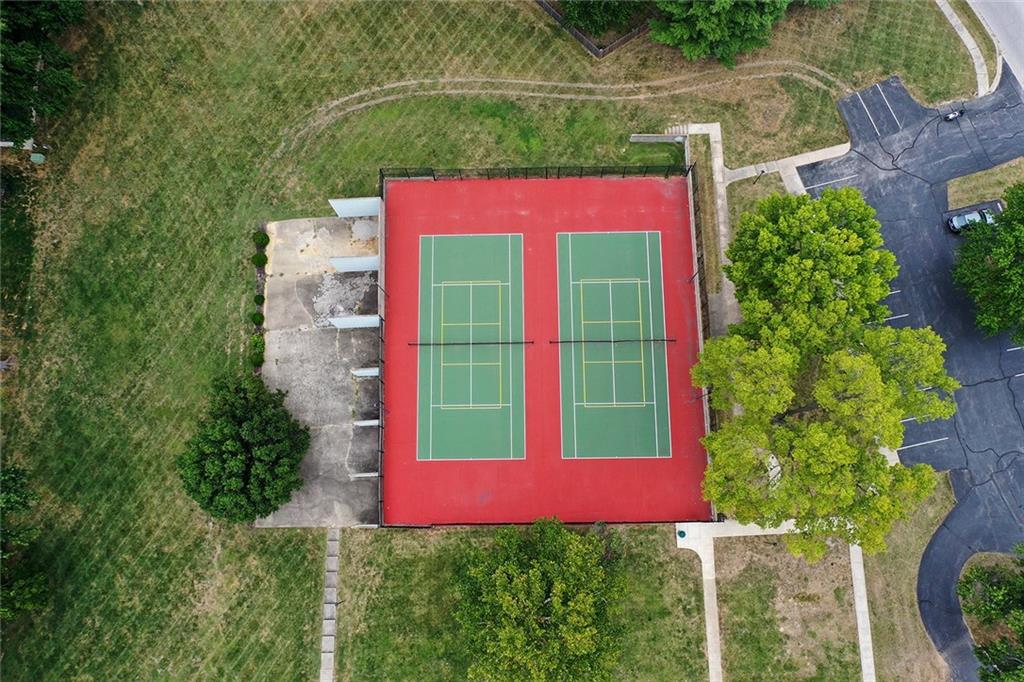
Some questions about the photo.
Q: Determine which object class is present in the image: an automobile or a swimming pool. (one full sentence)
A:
This aerial view contains an automobile.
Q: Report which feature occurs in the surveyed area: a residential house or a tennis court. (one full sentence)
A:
The one in the frame is a tennis court.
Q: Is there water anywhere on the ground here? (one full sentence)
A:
No, the picture contains no water.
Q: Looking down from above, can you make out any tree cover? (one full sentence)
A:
Yes, there's tree cover in this view.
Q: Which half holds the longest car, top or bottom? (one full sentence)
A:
The longest car sits in the top half of the picture.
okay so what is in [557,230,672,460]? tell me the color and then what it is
green tennis court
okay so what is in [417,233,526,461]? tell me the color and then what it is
green tennis court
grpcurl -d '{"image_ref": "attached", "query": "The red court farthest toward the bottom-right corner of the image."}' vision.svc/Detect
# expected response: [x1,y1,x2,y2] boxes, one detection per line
[380,176,716,527]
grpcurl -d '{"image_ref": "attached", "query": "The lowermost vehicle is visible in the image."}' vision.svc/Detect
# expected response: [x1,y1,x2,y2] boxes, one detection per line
[946,209,996,233]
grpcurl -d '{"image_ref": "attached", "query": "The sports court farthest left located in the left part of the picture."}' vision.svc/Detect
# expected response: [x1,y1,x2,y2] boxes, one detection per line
[255,216,380,528]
